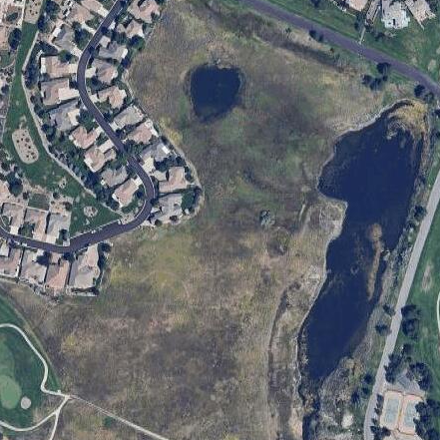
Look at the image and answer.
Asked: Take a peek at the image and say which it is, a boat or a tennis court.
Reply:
tennis court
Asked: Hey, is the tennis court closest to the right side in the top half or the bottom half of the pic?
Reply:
bottom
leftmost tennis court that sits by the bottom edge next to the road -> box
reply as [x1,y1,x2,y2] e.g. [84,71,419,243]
[380,391,403,429]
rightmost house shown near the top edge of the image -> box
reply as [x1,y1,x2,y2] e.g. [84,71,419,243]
[405,0,436,25]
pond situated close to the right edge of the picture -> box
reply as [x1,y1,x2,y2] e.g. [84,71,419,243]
[295,102,430,398]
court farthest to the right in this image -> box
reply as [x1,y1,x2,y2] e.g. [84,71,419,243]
[399,394,424,434]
